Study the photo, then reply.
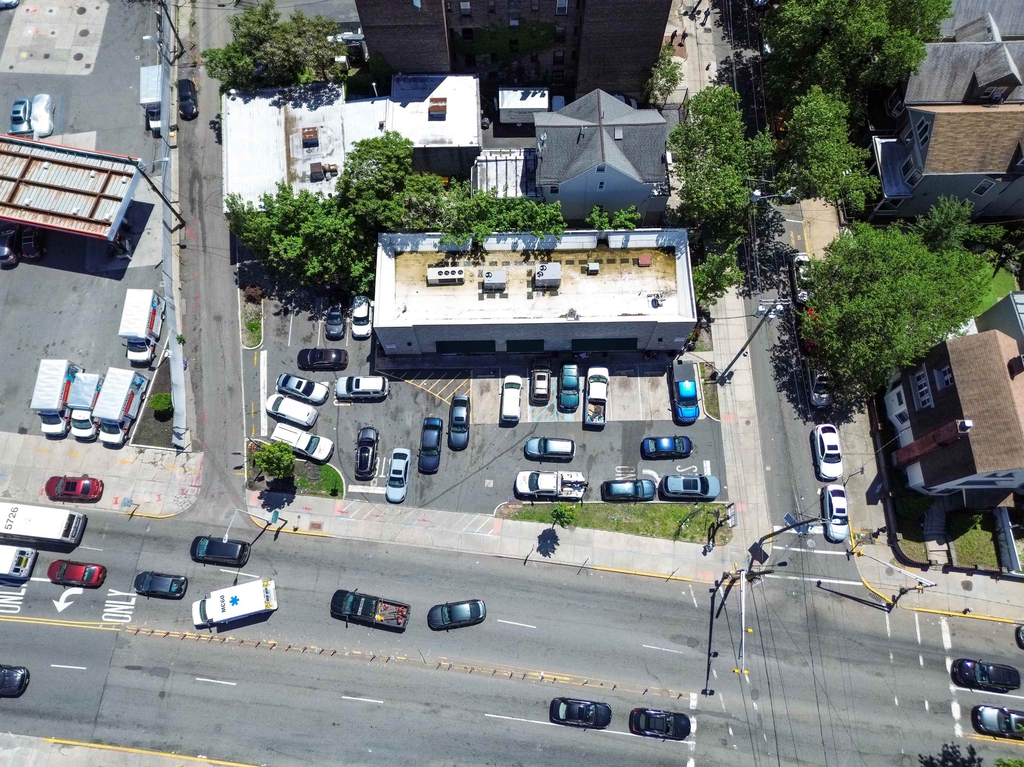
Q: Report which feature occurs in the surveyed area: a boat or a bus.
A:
bus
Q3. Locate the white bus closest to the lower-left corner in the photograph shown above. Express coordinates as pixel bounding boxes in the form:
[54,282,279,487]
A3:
[0,542,45,579]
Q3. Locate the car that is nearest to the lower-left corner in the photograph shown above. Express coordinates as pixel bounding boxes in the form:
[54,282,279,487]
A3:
[0,664,33,695]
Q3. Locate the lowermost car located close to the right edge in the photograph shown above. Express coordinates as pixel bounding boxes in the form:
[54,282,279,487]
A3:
[968,705,1024,739]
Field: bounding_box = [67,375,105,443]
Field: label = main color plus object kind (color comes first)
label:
white truck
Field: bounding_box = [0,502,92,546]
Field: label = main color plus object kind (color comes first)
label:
white bus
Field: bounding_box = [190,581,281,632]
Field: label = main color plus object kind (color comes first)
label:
white van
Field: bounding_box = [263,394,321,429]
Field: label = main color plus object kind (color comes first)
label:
white car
